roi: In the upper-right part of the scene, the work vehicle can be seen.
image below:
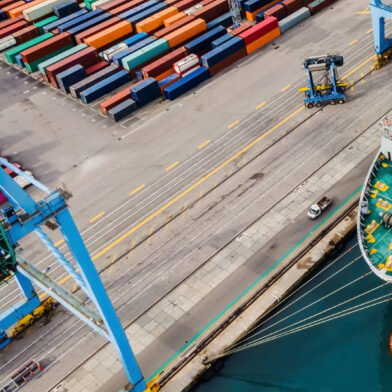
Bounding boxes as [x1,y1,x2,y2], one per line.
[297,45,348,105]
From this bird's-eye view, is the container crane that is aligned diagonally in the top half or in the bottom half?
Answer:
bottom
